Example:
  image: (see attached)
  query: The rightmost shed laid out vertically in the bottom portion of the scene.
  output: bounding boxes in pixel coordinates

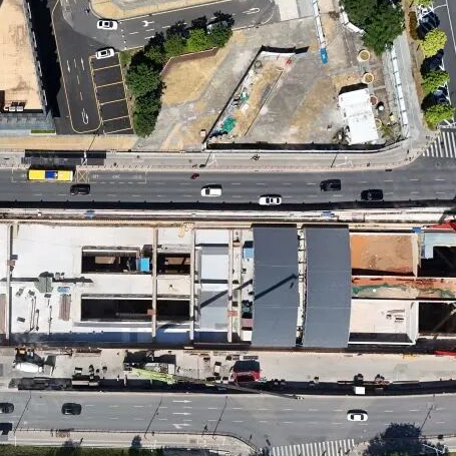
[298,226,352,347]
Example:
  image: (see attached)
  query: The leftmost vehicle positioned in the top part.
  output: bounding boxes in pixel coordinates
[27,169,75,181]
